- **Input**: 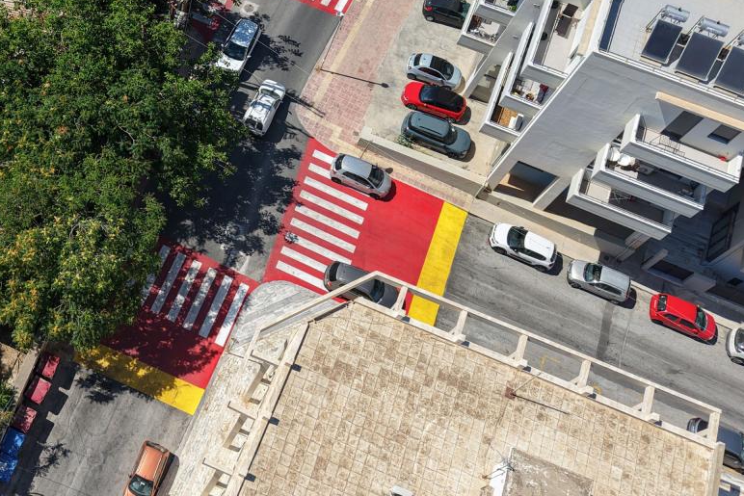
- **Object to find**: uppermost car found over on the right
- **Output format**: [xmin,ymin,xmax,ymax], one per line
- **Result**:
[421,0,472,28]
